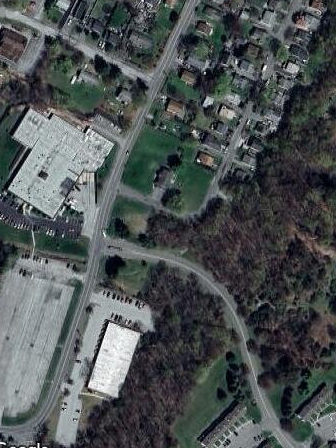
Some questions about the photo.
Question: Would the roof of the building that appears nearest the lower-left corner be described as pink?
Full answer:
No, the roof of the building that appears nearest the lower-left corner is white.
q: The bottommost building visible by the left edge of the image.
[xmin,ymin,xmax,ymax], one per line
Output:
[6,108,114,219]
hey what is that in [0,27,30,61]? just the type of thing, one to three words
building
